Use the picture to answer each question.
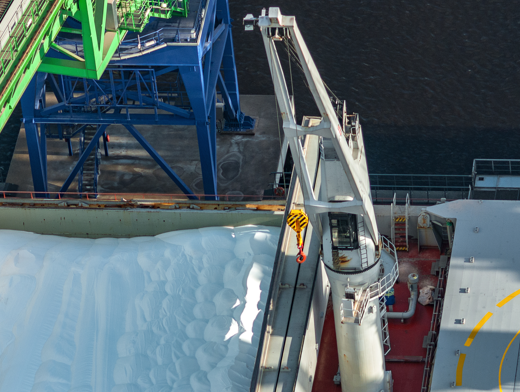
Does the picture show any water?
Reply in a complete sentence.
Yes, there's water in this view.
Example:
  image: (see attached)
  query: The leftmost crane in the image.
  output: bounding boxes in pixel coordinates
[244,11,405,392]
